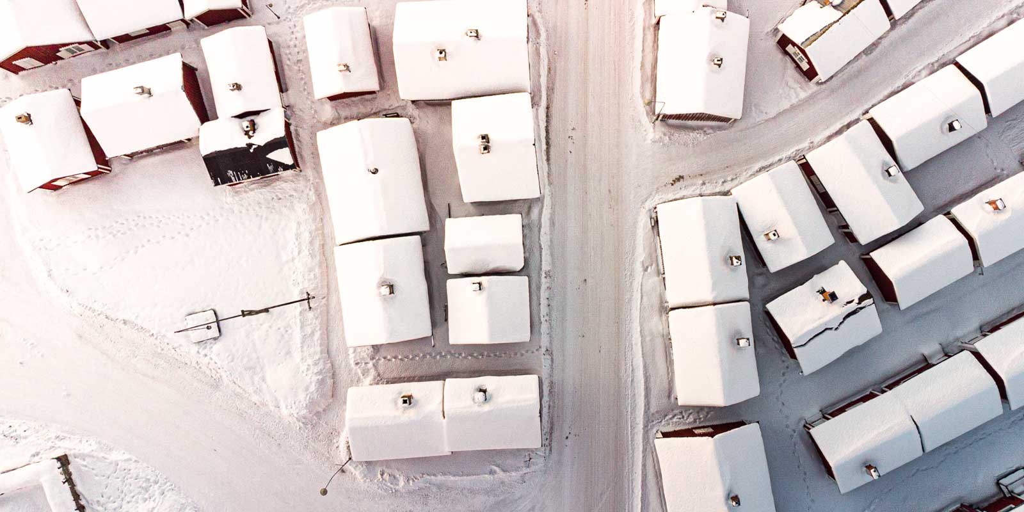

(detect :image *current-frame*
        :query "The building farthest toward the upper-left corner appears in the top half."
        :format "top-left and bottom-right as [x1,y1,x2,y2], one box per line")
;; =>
[0,0,108,73]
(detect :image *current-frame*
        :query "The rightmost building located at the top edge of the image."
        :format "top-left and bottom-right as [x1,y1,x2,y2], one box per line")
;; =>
[954,20,1024,117]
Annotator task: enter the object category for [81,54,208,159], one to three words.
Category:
building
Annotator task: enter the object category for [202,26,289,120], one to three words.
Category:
building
